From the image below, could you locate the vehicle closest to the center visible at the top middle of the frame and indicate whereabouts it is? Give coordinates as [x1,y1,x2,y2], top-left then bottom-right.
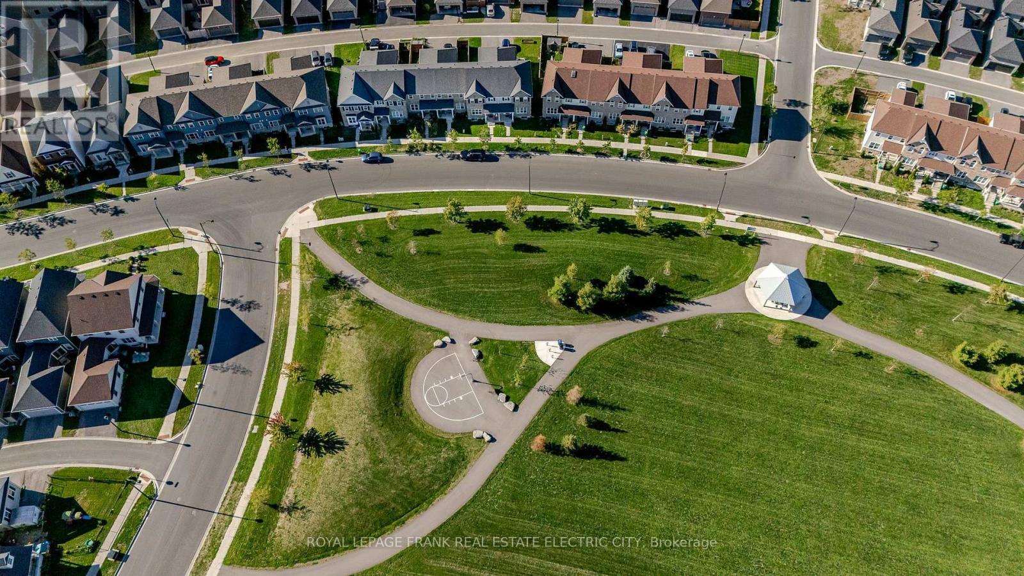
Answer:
[461,149,485,162]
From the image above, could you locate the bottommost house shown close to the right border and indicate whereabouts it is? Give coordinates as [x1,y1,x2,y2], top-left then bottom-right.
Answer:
[863,92,1024,212]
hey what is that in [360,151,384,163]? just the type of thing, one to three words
vehicle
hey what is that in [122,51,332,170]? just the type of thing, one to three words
house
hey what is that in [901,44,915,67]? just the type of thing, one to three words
vehicle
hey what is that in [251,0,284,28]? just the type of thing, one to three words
building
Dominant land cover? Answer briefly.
grass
